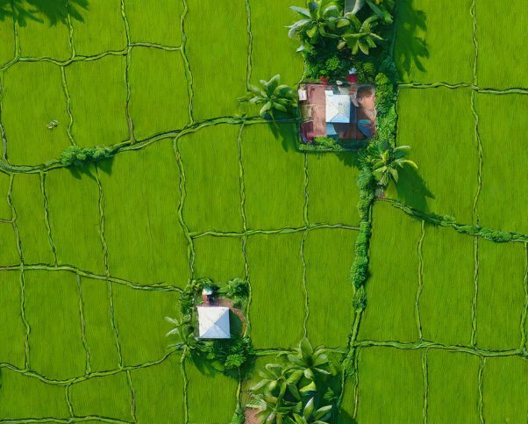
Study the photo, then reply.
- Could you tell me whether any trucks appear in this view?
No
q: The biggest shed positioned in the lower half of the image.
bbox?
[197,307,231,339]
